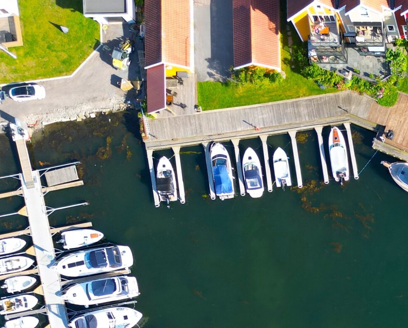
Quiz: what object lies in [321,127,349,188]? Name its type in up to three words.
boat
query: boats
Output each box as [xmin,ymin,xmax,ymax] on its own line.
[208,139,237,203]
[1,318,40,328]
[0,258,35,276]
[273,145,292,194]
[47,243,142,280]
[321,127,349,188]
[153,154,179,206]
[0,296,38,316]
[54,229,104,249]
[0,239,27,256]
[67,305,140,328]
[243,148,267,201]
[0,277,37,294]
[53,274,143,310]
